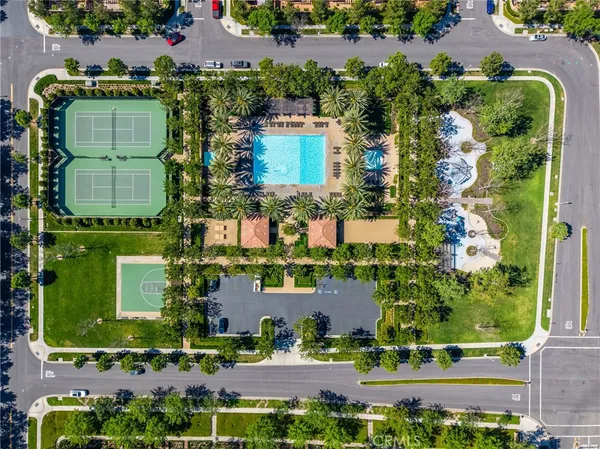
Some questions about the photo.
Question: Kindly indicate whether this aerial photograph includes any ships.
No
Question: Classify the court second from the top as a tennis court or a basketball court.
tennis court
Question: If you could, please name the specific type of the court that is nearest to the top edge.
tennis court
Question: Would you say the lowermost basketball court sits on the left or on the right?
left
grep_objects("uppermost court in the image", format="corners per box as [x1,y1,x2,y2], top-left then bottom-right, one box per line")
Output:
[56,100,167,157]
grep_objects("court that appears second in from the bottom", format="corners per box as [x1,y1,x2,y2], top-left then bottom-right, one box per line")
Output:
[56,157,167,216]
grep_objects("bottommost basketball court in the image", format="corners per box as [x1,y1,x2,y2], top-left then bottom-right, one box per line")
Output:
[116,256,171,319]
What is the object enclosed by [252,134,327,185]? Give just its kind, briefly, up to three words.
swimming pool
